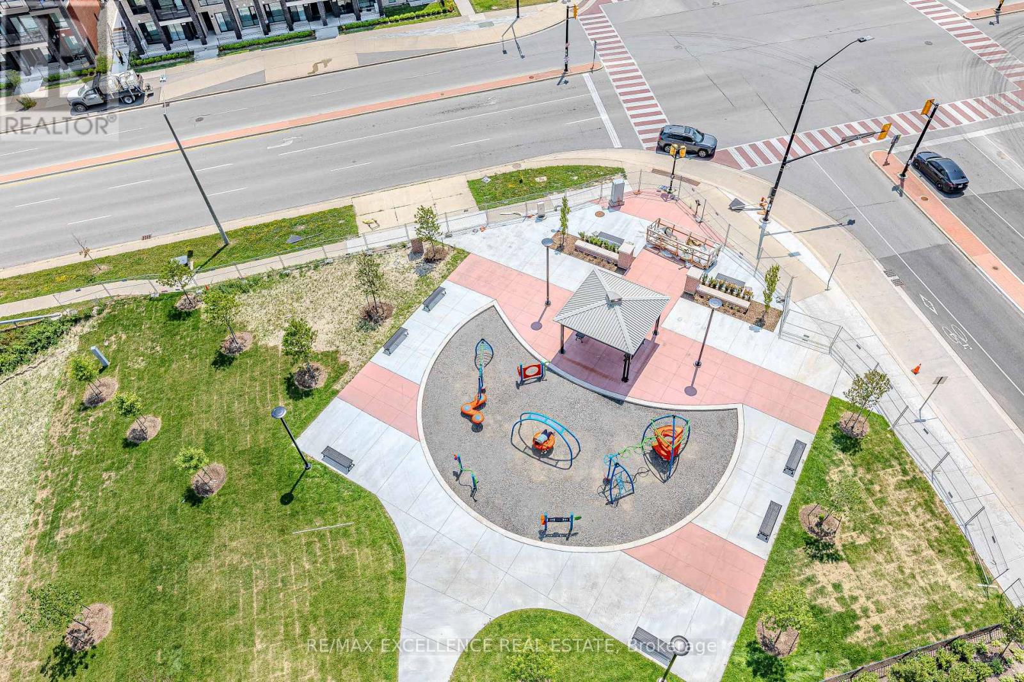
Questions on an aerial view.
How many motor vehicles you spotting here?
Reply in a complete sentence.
I count 3 motor vehicles.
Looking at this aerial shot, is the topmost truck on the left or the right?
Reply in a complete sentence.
The topmost truck sits on the left side.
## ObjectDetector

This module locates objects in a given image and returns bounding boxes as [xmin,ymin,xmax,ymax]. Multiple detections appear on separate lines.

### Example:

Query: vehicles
[63,75,144,112]
[658,121,720,157]
[913,148,974,192]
